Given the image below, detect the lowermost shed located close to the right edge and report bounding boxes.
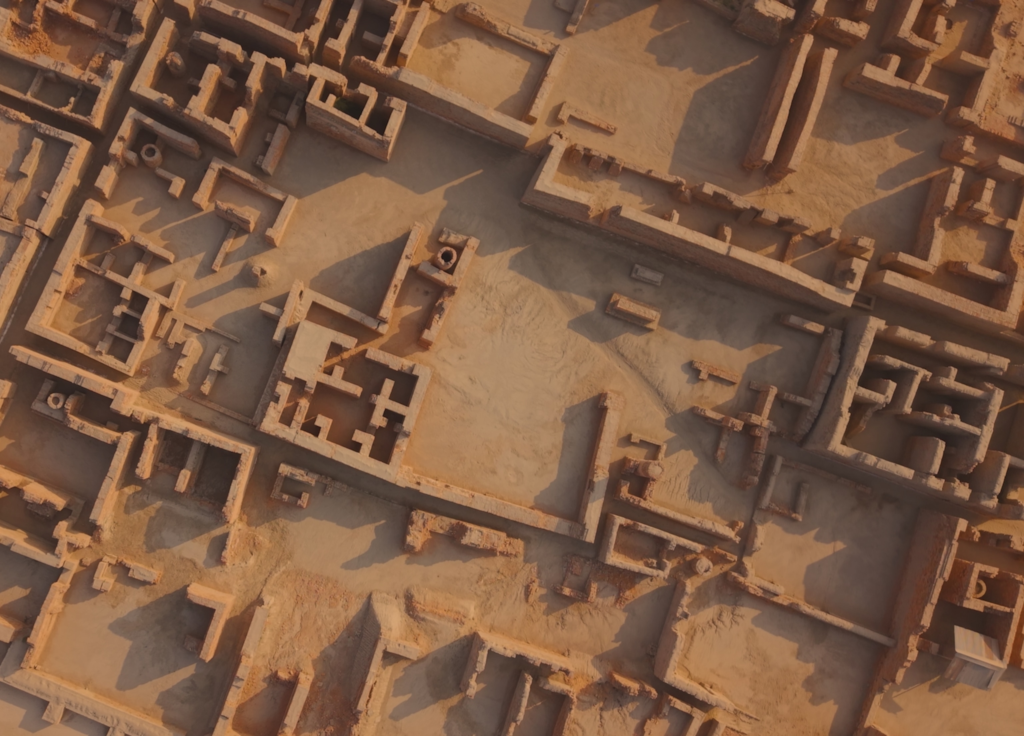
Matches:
[938,620,1005,690]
